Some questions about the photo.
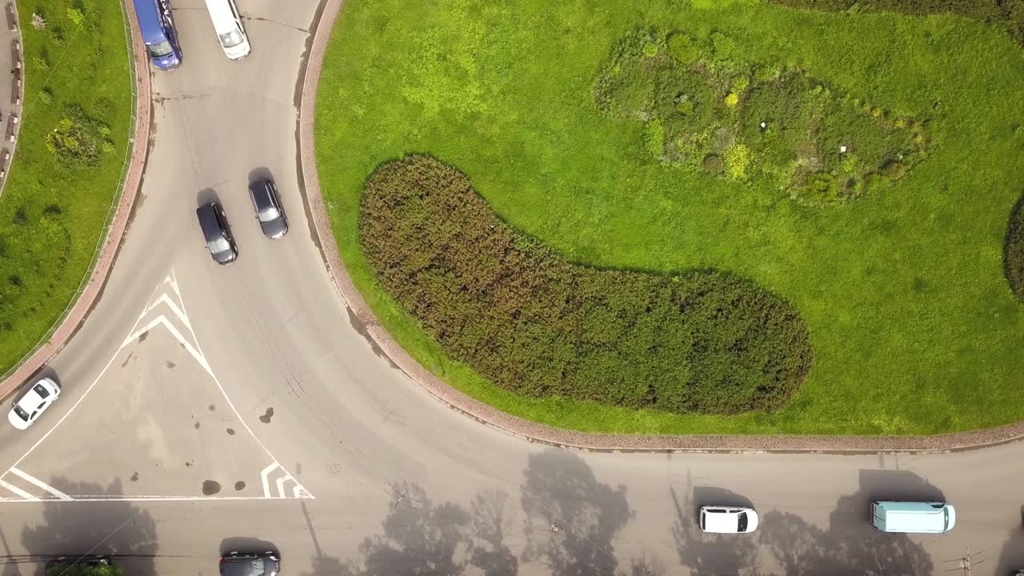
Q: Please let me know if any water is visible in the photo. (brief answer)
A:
No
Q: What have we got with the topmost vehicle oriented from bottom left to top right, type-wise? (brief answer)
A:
car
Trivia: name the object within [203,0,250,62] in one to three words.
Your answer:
van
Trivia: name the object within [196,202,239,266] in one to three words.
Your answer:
car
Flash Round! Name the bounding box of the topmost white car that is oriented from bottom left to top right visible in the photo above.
[9,377,61,430]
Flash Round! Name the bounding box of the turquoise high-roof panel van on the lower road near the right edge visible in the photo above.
[869,499,954,534]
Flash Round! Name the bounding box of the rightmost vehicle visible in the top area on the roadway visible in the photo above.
[251,180,289,241]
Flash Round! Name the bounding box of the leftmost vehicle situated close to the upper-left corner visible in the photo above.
[130,0,182,72]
